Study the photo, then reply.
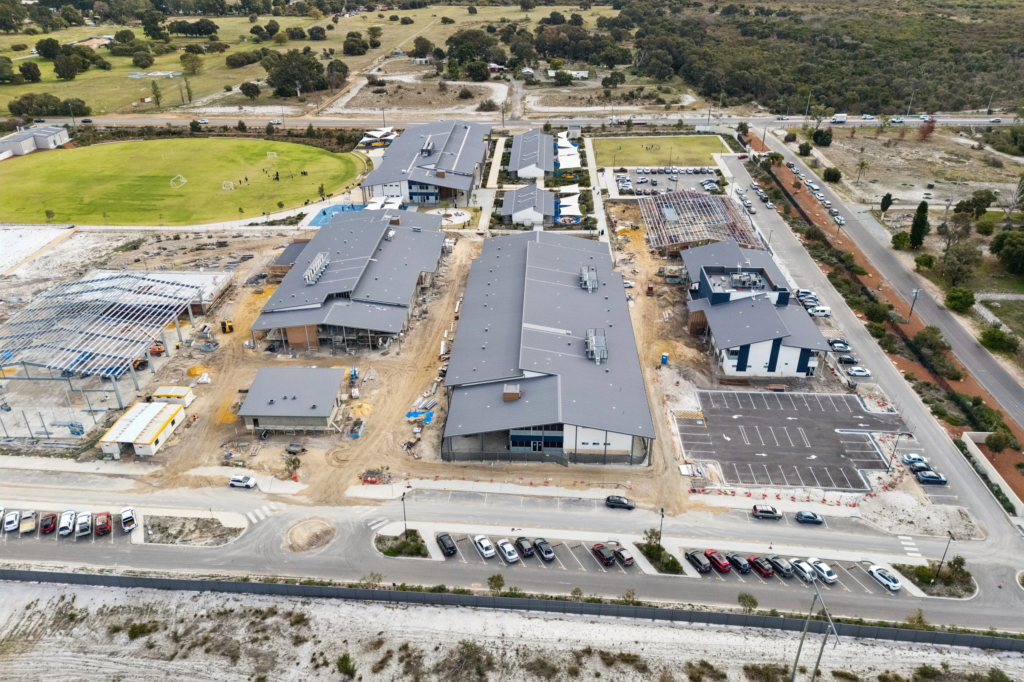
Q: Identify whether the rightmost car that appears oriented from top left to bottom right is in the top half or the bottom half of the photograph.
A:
bottom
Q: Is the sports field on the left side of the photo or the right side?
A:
left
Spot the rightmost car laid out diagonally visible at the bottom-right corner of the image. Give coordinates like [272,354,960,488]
[870,565,903,592]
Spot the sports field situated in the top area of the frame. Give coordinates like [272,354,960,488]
[0,138,365,226]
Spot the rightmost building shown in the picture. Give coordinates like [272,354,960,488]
[679,241,833,372]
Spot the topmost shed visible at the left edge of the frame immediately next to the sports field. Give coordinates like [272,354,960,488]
[0,113,69,155]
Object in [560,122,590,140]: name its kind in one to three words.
building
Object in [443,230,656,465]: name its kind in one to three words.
building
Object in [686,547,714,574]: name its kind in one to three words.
car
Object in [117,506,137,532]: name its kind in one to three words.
vehicle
